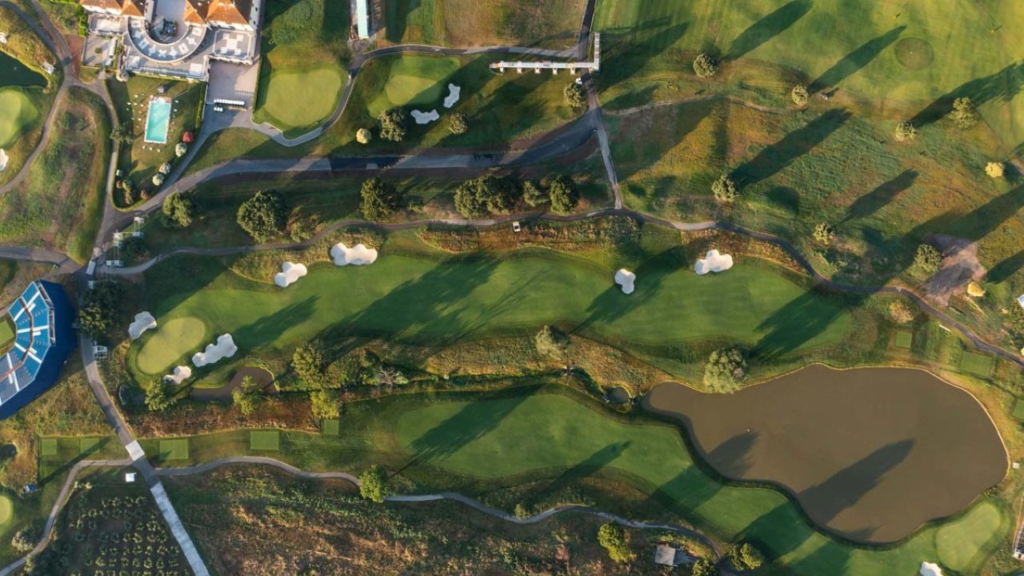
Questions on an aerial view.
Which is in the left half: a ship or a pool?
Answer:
pool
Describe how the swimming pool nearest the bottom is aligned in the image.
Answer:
from top to bottom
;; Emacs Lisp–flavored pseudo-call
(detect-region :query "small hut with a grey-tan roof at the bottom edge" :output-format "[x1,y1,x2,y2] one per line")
[656,545,678,569]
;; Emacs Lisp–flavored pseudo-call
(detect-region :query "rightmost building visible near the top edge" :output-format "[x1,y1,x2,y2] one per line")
[350,0,386,38]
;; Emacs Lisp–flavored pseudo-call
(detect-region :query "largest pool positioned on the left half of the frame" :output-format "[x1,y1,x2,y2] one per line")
[143,93,173,145]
